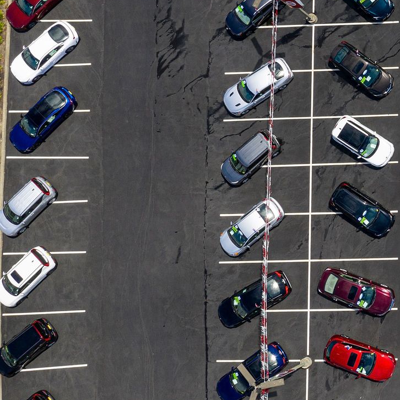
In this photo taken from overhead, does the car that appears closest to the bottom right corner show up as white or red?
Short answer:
red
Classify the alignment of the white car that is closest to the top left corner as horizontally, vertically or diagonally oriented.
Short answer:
diagonally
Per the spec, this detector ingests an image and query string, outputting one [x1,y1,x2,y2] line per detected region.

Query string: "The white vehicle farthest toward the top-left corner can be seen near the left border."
[9,23,79,85]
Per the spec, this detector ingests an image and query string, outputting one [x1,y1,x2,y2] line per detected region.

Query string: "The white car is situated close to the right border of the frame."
[332,115,393,166]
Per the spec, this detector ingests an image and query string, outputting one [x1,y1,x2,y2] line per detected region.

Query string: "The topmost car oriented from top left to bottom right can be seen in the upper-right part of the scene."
[329,40,393,98]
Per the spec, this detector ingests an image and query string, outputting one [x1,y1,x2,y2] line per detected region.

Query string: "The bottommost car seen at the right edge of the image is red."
[324,333,396,382]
